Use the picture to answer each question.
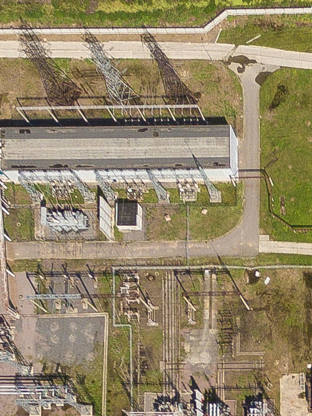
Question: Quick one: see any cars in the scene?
No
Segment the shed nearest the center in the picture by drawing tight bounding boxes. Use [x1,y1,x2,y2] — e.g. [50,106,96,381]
[117,201,141,230]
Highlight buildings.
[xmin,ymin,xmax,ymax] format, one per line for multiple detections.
[0,125,237,183]
[117,201,141,230]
